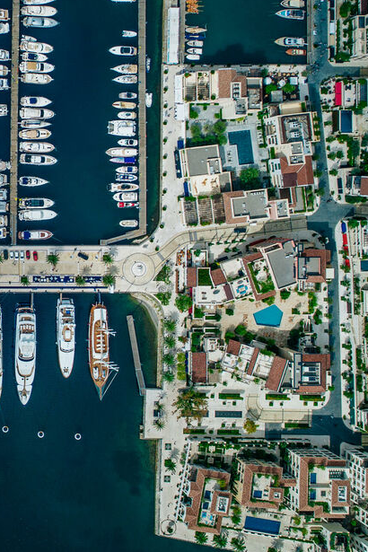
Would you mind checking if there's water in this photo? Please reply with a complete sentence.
Yes, there's water in this view.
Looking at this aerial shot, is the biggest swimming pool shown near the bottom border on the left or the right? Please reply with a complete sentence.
The biggest swimming pool shown near the bottom border appears in the right half of the scene.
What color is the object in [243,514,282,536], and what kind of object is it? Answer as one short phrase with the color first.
blue swimming pool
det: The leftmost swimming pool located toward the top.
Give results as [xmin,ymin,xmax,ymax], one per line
[226,128,255,166]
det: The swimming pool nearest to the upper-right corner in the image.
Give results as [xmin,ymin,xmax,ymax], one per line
[340,109,353,134]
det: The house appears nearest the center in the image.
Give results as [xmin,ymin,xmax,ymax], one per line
[182,249,253,304]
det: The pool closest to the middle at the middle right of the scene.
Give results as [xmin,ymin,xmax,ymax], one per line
[252,304,285,328]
